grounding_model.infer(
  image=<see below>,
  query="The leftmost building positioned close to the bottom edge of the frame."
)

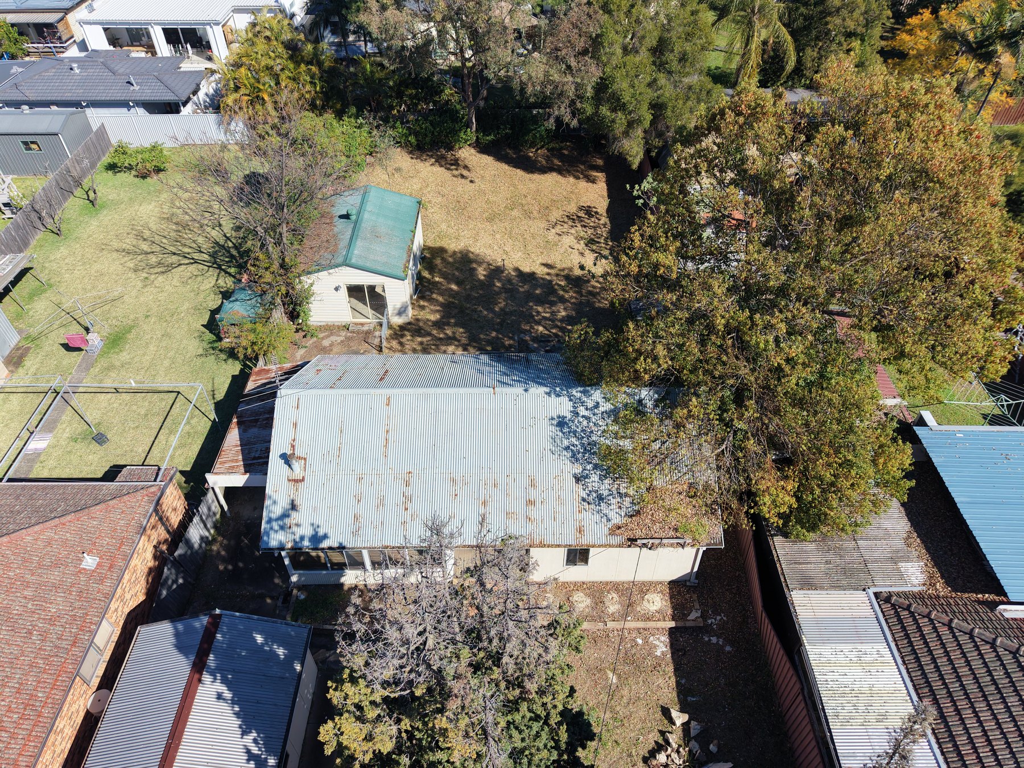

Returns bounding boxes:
[0,469,179,768]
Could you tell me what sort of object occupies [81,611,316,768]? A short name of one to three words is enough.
building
